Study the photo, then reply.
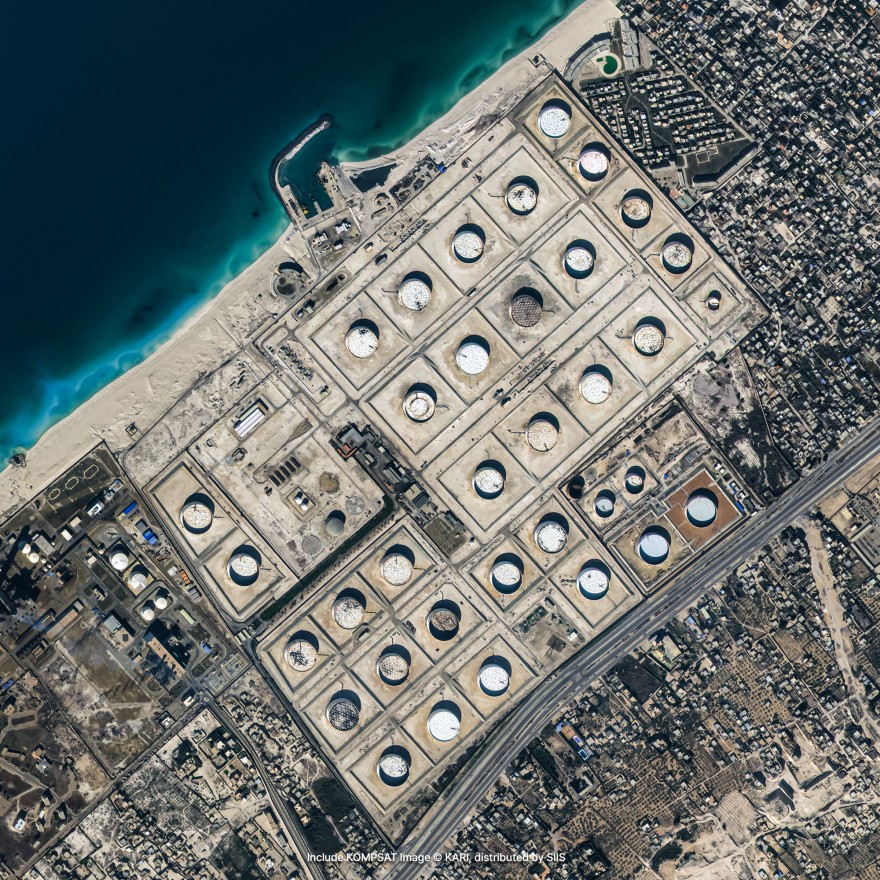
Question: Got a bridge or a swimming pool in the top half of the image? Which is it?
swimming pool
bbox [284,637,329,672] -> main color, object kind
white storage tank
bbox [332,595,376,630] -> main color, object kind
white storage tank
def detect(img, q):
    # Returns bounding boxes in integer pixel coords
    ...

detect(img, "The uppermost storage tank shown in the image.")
[536,104,571,150]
